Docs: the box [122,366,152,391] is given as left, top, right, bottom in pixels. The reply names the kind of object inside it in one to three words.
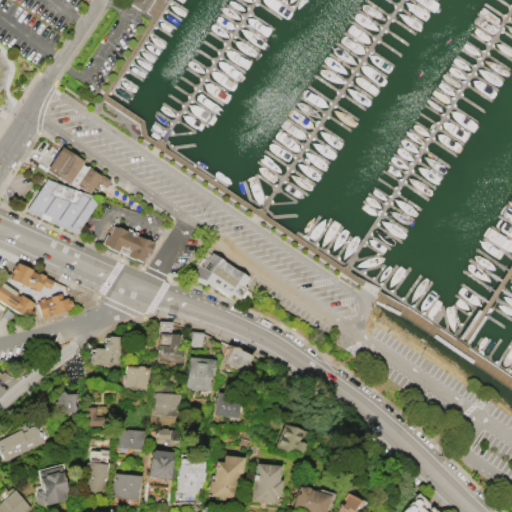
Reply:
house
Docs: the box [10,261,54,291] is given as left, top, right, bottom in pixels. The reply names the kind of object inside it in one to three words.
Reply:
building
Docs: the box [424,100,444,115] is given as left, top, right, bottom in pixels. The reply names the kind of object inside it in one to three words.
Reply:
boat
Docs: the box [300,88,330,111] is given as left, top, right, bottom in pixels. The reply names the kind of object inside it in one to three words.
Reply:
boat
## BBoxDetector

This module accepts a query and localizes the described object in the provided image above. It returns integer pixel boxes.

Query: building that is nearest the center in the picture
[198,252,250,298]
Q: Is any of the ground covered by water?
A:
Yes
